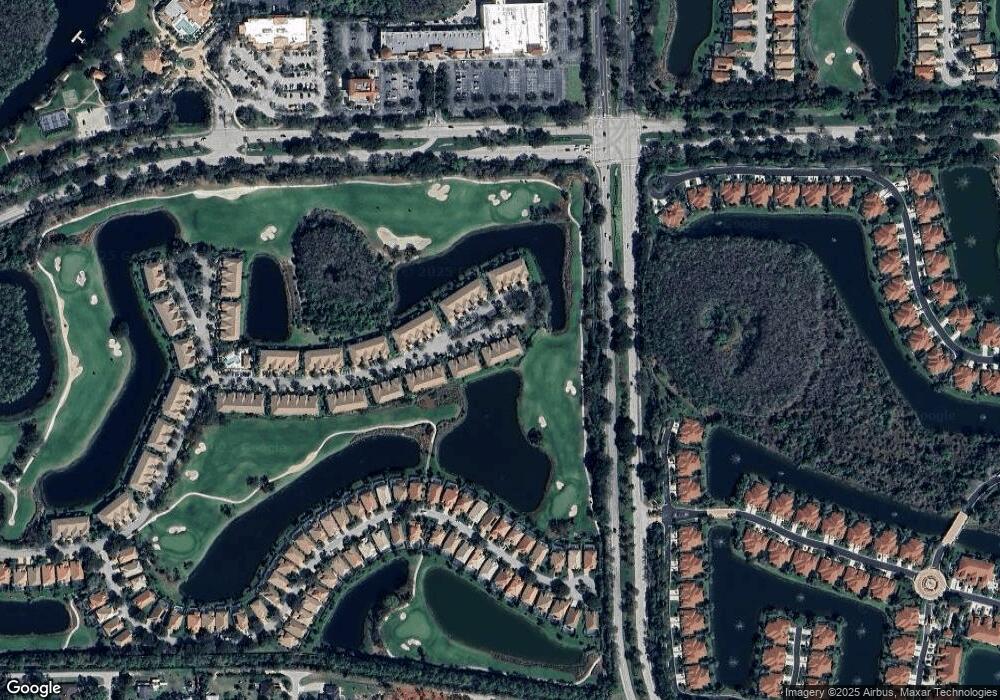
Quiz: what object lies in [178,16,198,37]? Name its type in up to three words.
swimming pool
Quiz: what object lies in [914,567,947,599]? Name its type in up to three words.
roundabout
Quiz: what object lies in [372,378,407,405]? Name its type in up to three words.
house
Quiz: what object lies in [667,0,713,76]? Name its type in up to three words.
pond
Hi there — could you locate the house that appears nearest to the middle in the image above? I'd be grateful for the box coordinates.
[480,335,524,367]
